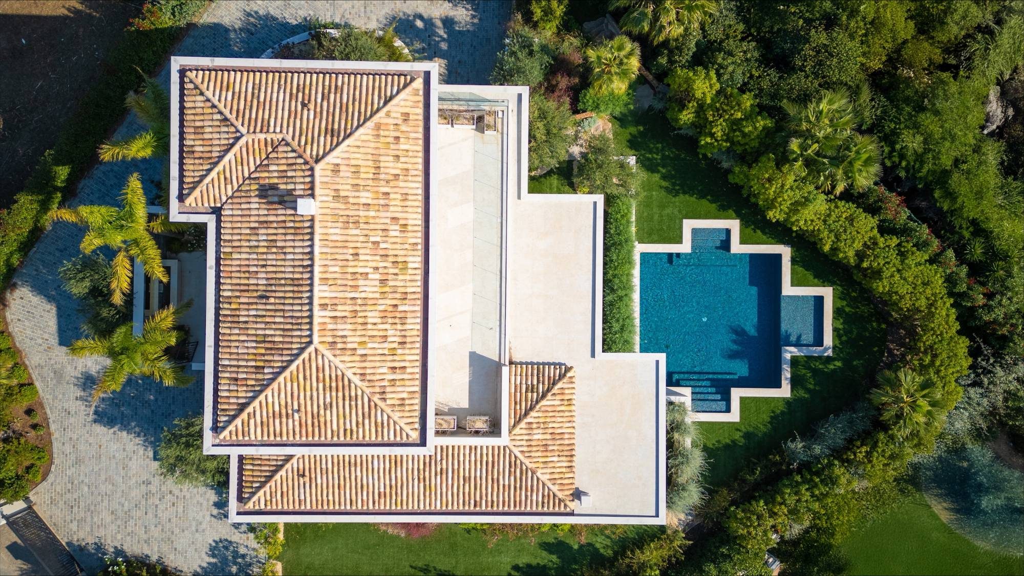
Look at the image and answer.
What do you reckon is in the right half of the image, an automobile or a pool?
pool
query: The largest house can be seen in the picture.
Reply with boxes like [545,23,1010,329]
[170,57,666,525]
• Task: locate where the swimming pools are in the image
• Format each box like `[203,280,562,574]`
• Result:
[635,219,832,422]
